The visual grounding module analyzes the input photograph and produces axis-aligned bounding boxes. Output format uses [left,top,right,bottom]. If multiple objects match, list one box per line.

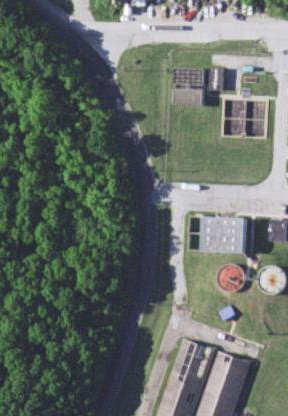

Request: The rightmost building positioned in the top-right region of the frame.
[210,67,224,91]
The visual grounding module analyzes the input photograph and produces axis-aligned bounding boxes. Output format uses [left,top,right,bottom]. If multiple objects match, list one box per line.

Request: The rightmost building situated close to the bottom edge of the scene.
[199,352,250,416]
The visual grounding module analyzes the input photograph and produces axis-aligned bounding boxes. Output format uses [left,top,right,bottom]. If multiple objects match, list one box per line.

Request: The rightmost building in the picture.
[268,220,288,242]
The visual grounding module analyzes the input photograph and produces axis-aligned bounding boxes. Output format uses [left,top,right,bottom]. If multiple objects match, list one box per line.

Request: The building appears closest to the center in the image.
[200,217,245,254]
